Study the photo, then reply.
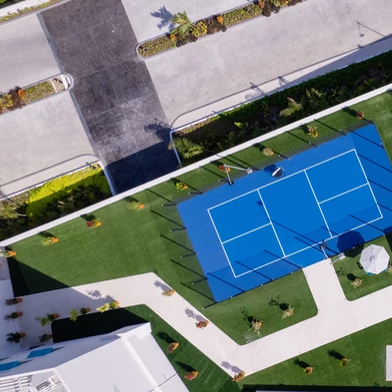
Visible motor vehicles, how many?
0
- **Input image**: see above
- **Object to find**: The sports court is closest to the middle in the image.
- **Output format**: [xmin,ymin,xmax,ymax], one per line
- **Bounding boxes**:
[177,123,392,302]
